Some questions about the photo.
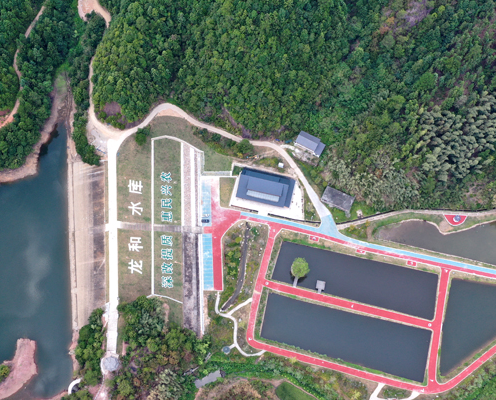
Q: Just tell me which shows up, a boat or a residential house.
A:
residential house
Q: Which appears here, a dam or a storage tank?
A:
dam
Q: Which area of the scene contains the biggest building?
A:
center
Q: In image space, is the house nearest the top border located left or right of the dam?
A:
to the right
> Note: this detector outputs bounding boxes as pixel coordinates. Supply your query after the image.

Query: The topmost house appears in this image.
[297,130,326,156]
